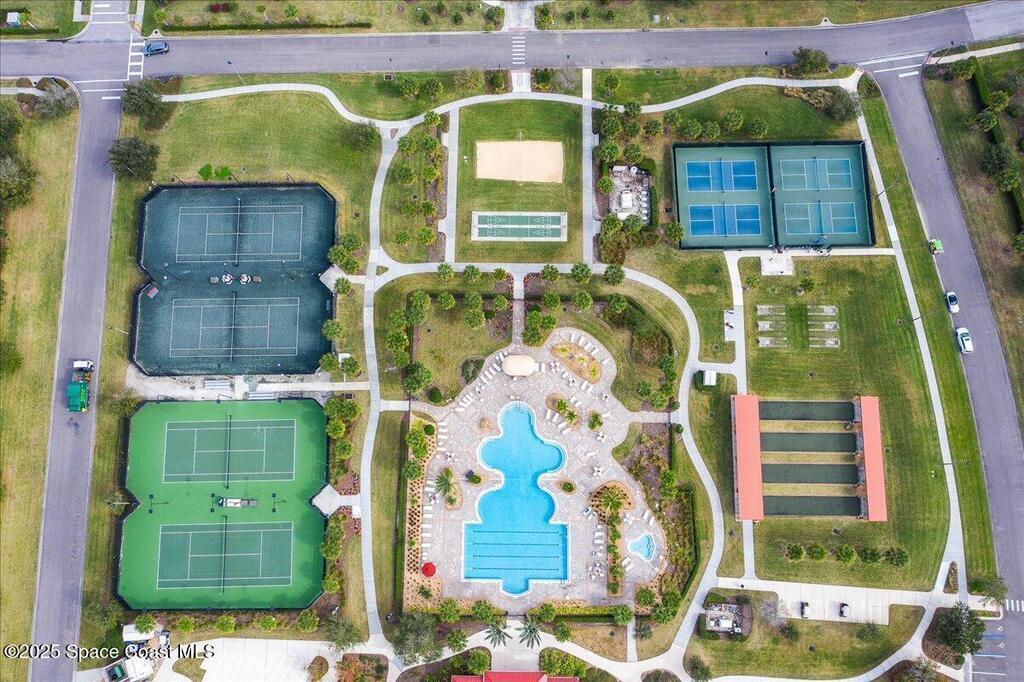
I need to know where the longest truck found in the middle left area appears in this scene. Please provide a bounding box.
[69,361,91,413]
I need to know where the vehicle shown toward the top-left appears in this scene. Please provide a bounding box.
[145,42,168,55]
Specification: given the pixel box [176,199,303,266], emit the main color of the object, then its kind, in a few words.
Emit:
blue tennis court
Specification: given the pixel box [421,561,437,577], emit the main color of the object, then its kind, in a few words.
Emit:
red umbrella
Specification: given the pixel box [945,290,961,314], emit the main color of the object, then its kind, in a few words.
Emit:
white car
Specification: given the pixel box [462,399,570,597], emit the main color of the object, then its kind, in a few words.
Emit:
blue swimming pool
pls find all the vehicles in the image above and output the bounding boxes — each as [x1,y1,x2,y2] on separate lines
[956,328,975,354]
[839,602,852,619]
[928,241,944,256]
[145,42,168,55]
[945,290,961,314]
[157,629,172,652]
[69,361,91,413]
[799,602,812,619]
[124,653,164,681]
